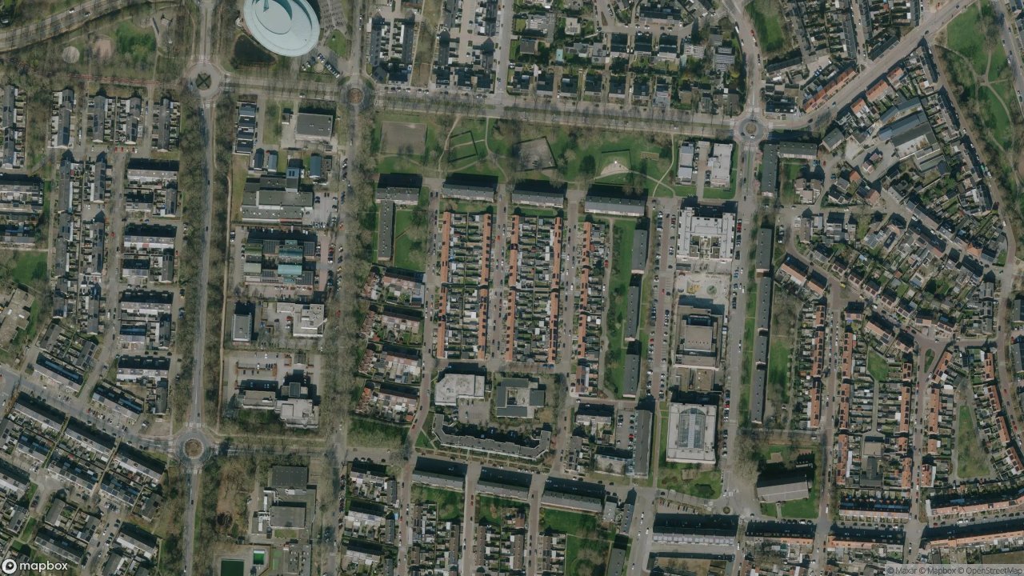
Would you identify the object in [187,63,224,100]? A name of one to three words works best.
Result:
roundabout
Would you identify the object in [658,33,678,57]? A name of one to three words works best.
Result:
house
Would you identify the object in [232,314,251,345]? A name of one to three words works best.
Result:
building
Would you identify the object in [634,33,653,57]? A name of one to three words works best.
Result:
house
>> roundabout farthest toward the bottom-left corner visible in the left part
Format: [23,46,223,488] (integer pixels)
[171,427,214,469]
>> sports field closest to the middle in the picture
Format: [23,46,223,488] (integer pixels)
[516,136,555,170]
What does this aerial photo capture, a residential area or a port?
residential area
